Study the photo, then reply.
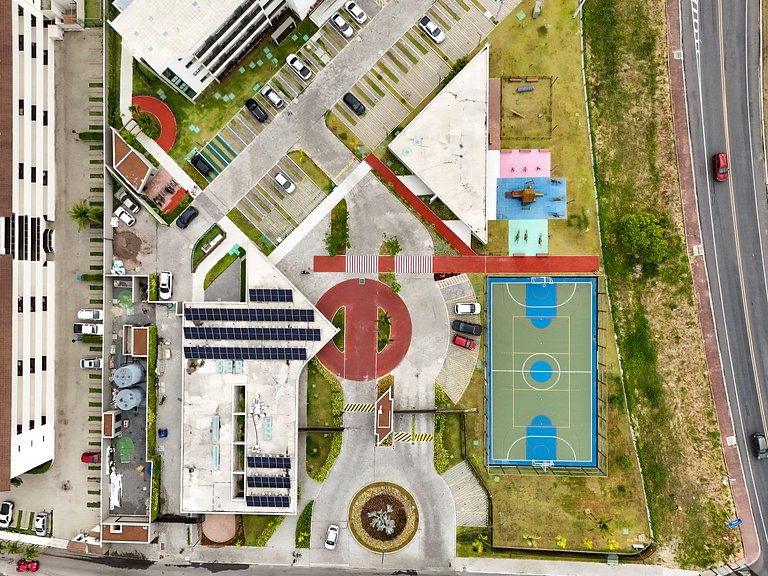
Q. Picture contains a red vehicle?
Yes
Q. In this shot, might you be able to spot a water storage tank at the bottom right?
No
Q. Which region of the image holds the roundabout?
bottom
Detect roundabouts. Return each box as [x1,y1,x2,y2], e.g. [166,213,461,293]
[348,482,420,554]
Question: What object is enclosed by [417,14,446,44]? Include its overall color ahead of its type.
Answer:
white truck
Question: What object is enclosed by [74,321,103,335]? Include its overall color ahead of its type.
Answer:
white vehicle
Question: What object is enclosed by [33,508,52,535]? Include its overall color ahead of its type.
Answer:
white car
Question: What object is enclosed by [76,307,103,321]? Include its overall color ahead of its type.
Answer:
white car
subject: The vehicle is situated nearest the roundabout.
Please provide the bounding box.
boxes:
[324,522,340,551]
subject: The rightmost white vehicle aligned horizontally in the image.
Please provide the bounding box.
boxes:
[454,302,482,316]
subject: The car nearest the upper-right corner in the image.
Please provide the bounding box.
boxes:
[711,152,730,183]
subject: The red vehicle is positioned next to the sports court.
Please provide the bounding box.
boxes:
[451,334,478,350]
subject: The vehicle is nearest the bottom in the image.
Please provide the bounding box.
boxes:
[14,557,42,574]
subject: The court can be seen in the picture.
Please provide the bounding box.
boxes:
[488,277,597,466]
